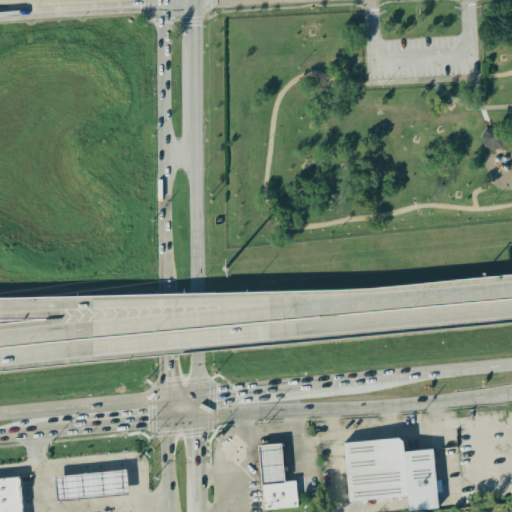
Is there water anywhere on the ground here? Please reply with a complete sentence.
No, no water is visible.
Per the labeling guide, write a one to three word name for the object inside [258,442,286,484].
building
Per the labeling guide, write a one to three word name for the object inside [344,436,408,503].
building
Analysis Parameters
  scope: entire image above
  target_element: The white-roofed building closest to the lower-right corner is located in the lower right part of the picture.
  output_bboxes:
[406,448,444,512]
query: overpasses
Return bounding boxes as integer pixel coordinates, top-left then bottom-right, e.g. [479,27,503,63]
[0,274,512,372]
